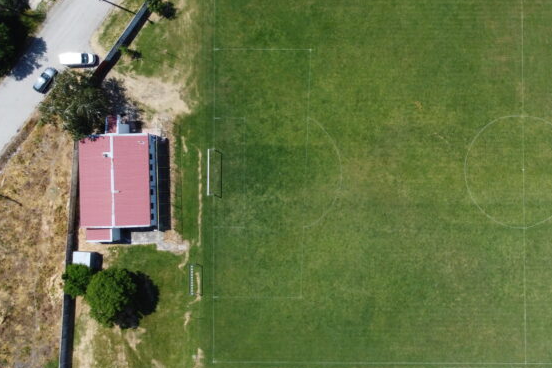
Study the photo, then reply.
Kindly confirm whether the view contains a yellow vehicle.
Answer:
No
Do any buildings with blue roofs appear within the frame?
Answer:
No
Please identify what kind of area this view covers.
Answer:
sports ground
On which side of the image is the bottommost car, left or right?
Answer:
left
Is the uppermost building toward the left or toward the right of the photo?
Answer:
left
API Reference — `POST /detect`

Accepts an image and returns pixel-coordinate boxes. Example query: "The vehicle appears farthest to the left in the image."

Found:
[31,68,57,92]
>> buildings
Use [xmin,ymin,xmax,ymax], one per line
[73,249,99,267]
[79,116,158,239]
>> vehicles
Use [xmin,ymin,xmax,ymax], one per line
[31,68,57,92]
[55,51,95,66]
